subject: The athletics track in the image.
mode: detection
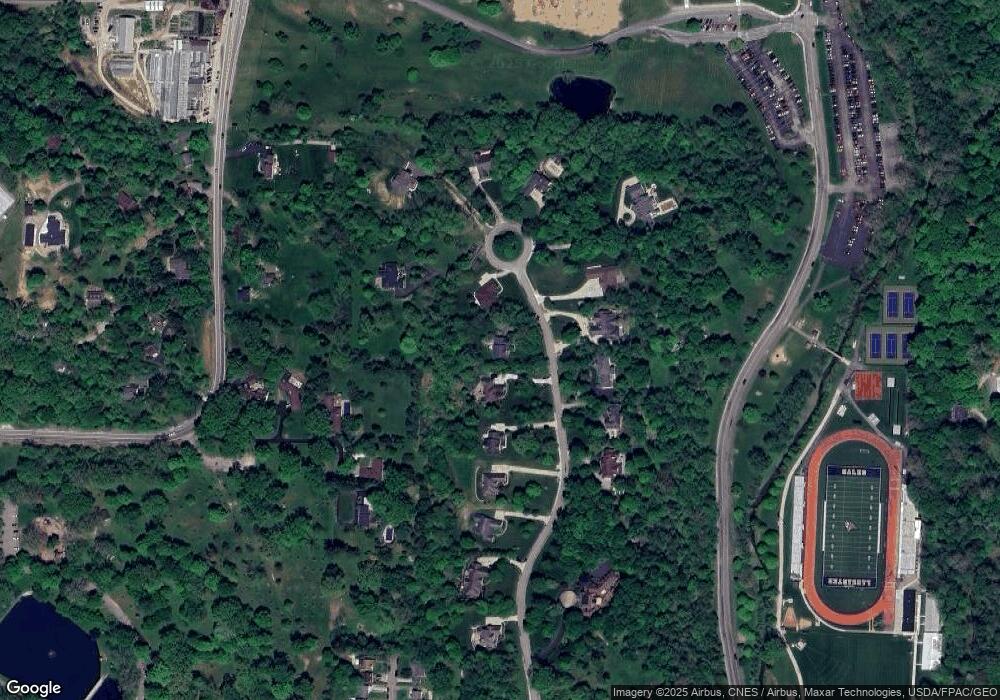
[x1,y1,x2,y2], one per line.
[804,430,901,633]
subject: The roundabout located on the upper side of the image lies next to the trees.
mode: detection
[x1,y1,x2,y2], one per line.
[485,222,533,270]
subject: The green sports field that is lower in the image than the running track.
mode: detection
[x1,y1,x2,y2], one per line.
[793,630,914,700]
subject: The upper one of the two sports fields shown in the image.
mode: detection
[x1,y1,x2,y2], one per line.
[814,440,889,613]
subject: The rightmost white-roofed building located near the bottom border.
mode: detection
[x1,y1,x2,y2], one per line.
[924,633,944,671]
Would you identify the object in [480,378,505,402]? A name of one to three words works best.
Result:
house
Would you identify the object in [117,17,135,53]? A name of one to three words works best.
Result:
barn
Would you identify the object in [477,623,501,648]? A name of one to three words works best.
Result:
house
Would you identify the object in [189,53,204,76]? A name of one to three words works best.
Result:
greenhouse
